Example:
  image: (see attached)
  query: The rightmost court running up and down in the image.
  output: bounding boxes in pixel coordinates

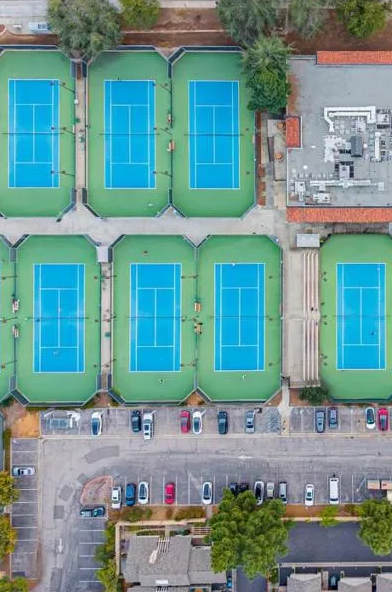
[320,235,392,399]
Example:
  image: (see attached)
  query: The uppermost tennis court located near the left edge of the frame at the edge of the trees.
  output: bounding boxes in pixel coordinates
[0,51,73,216]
